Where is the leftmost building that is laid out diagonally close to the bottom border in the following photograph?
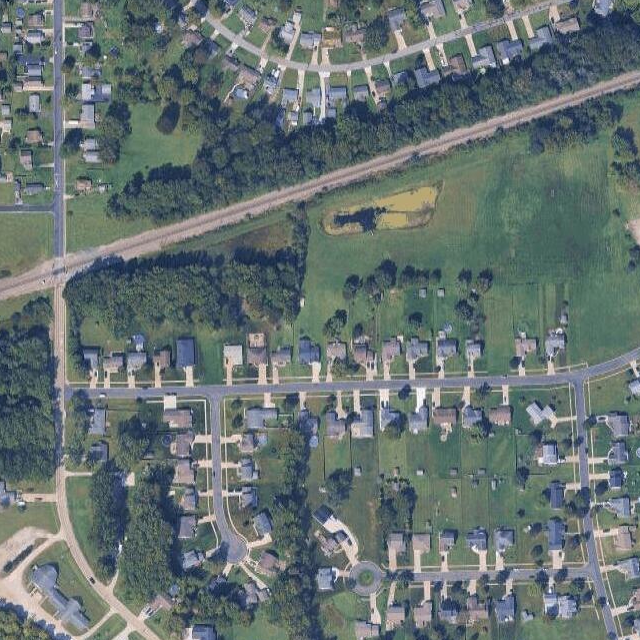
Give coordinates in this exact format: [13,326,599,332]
[32,564,94,635]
